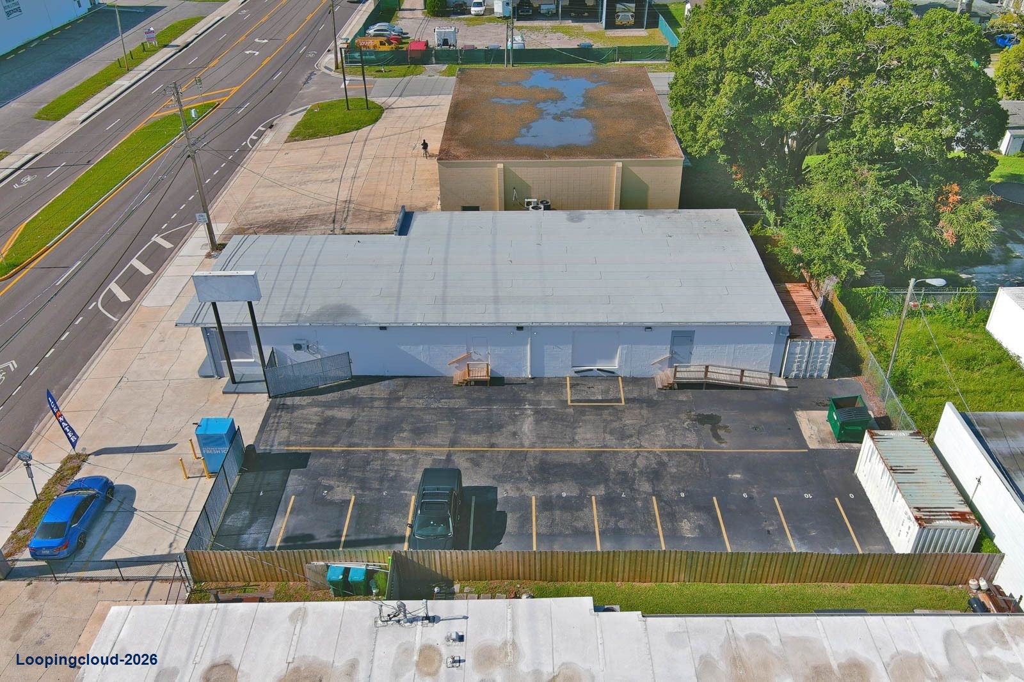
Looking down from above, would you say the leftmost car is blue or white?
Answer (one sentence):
The leftmost car is blue.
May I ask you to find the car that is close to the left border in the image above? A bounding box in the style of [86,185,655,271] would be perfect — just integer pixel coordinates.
[22,477,114,561]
